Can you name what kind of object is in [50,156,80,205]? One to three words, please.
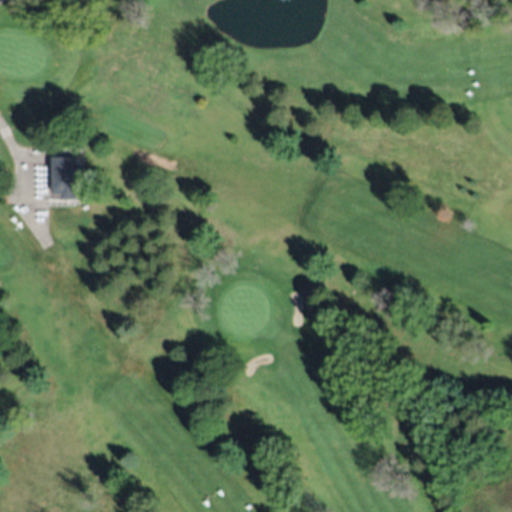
building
